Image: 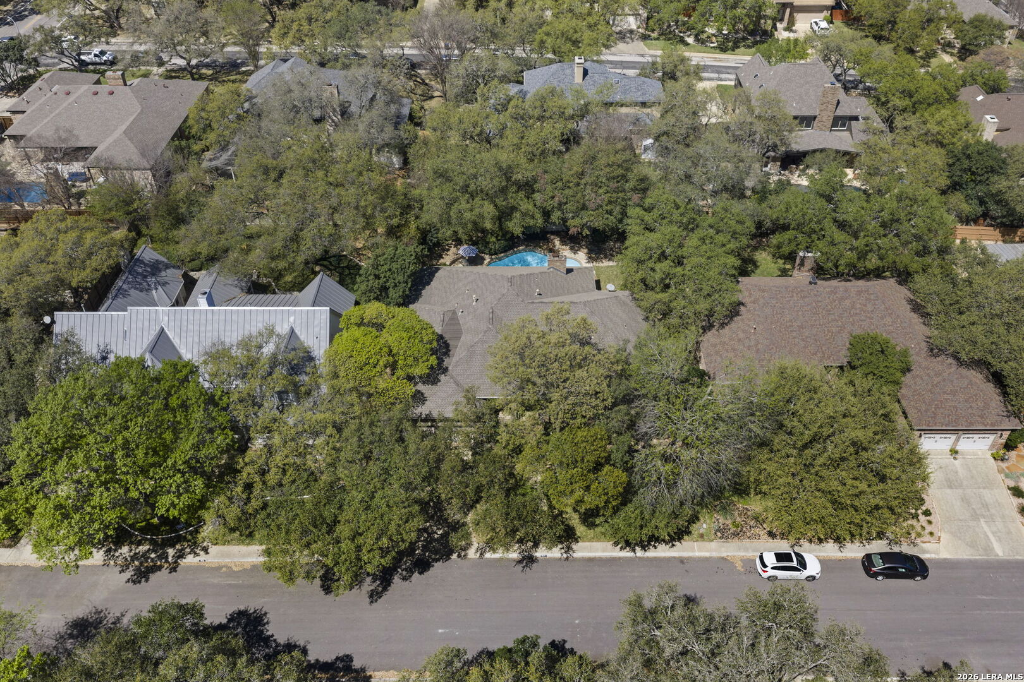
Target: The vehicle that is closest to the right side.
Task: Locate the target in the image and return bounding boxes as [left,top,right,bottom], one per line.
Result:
[861,548,932,581]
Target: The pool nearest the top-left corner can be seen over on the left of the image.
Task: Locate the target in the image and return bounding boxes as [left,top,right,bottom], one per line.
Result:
[0,181,50,203]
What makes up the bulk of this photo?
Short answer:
trees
